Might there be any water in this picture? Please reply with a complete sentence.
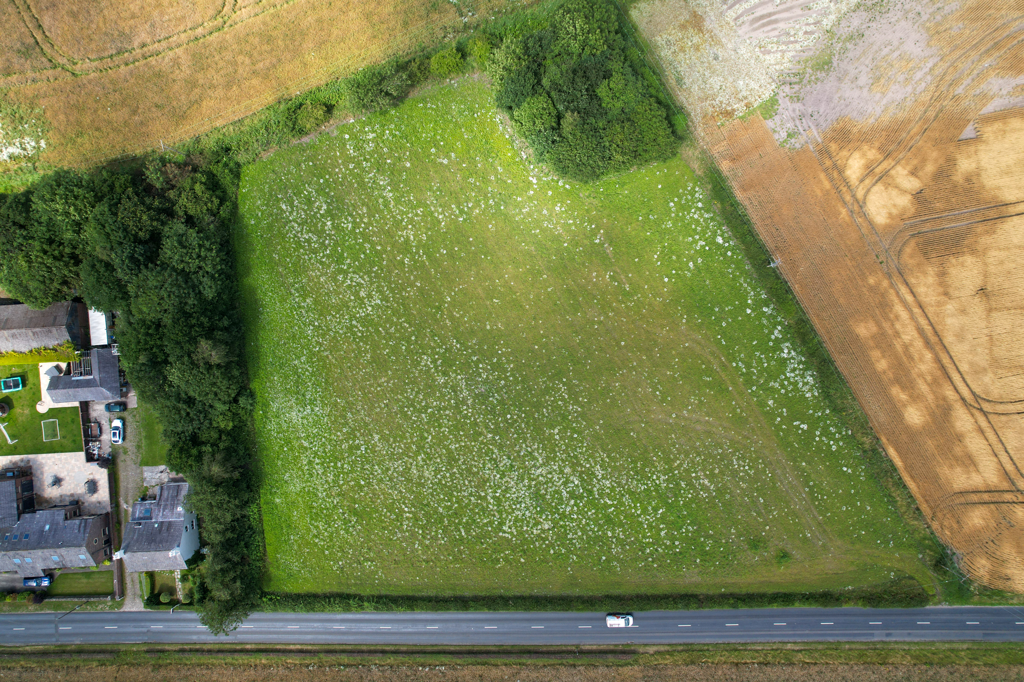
No, the scene doesn't show any water.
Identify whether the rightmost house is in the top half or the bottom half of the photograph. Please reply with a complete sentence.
Seen from above, the rightmost house lies in the bottom half of the view.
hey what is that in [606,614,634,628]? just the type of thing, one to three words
vehicle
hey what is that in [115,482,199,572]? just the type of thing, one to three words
house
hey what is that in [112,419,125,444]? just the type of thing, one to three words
vehicle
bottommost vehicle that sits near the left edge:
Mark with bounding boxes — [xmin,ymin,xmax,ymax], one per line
[22,575,54,588]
